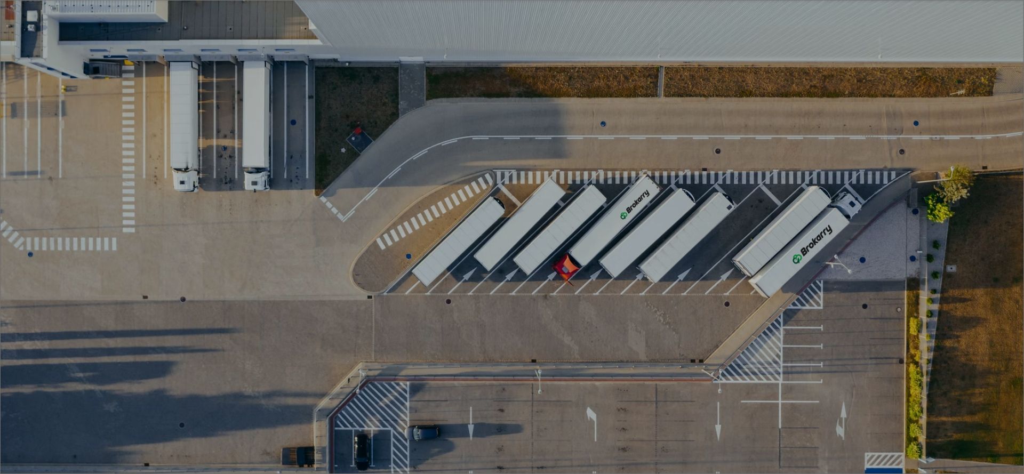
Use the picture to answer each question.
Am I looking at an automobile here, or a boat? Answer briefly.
automobile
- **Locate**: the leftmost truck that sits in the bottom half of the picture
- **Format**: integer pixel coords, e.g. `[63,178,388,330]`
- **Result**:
[279,448,313,469]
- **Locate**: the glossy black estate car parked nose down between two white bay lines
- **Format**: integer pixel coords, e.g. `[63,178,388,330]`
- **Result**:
[353,433,371,471]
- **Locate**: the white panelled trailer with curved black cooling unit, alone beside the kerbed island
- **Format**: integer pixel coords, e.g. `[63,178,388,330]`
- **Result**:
[413,196,506,286]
